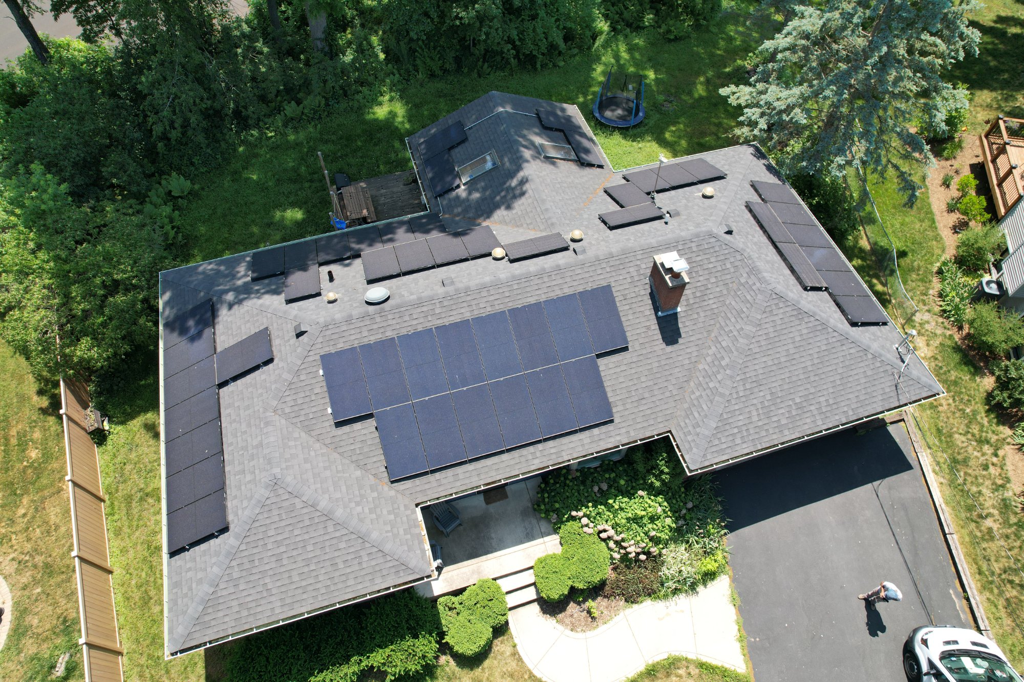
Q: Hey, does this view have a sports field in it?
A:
No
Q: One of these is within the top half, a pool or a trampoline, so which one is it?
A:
trampoline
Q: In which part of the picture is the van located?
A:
bottom right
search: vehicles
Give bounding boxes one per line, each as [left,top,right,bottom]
[903,627,1016,682]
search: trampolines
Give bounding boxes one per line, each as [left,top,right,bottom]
[593,62,654,137]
